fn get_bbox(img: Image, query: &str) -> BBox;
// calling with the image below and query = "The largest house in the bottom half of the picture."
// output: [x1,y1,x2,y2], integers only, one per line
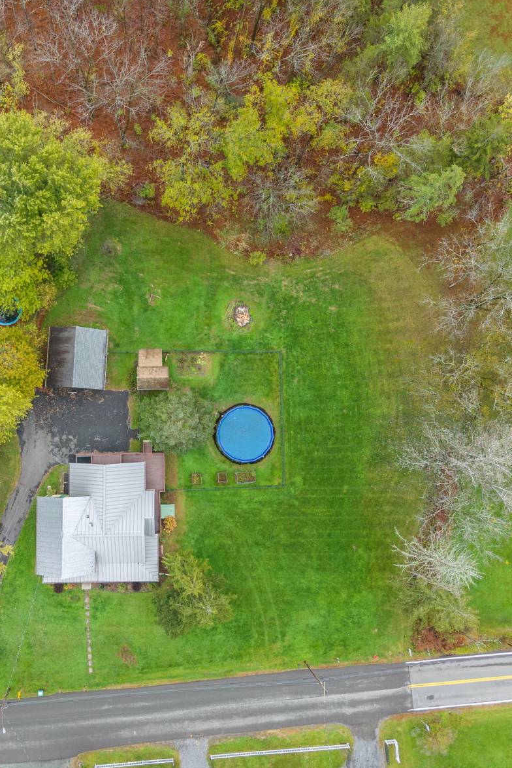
[37,461,159,591]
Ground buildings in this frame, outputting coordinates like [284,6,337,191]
[46,325,110,391]
[37,461,159,591]
[137,349,168,390]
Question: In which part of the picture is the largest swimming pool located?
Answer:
center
